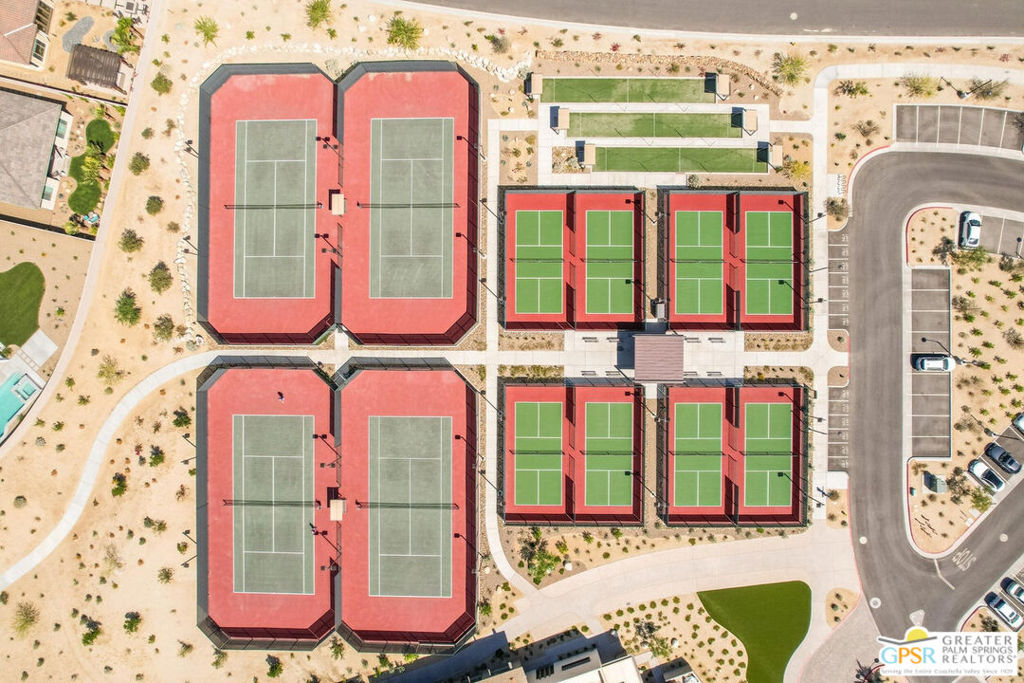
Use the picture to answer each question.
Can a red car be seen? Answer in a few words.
No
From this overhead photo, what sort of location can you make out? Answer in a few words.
sports ground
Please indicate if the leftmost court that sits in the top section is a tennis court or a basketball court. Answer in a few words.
tennis court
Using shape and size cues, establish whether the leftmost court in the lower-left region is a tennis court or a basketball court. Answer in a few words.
tennis court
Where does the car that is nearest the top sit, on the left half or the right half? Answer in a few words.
right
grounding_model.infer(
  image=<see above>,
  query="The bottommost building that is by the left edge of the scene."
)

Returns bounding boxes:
[0,93,72,209]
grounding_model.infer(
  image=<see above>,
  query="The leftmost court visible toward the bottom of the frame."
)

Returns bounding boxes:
[208,370,341,638]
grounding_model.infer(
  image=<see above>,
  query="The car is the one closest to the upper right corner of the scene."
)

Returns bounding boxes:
[961,212,983,248]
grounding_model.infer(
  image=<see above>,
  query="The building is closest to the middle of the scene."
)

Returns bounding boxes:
[629,333,685,382]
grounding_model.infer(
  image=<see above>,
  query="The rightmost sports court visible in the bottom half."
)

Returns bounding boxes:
[735,389,801,523]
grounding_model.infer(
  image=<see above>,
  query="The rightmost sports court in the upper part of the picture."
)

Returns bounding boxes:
[735,194,801,330]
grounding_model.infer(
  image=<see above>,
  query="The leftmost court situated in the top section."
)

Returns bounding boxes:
[209,73,343,342]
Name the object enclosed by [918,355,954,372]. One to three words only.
car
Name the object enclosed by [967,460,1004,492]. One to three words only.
car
